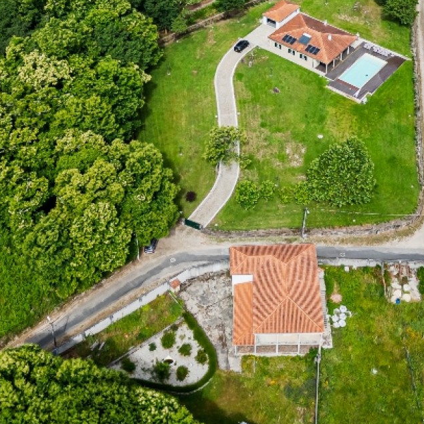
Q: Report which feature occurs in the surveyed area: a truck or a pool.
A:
pool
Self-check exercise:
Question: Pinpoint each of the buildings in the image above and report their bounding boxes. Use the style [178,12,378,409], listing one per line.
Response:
[229,244,325,364]
[167,277,182,293]
[266,13,358,77]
